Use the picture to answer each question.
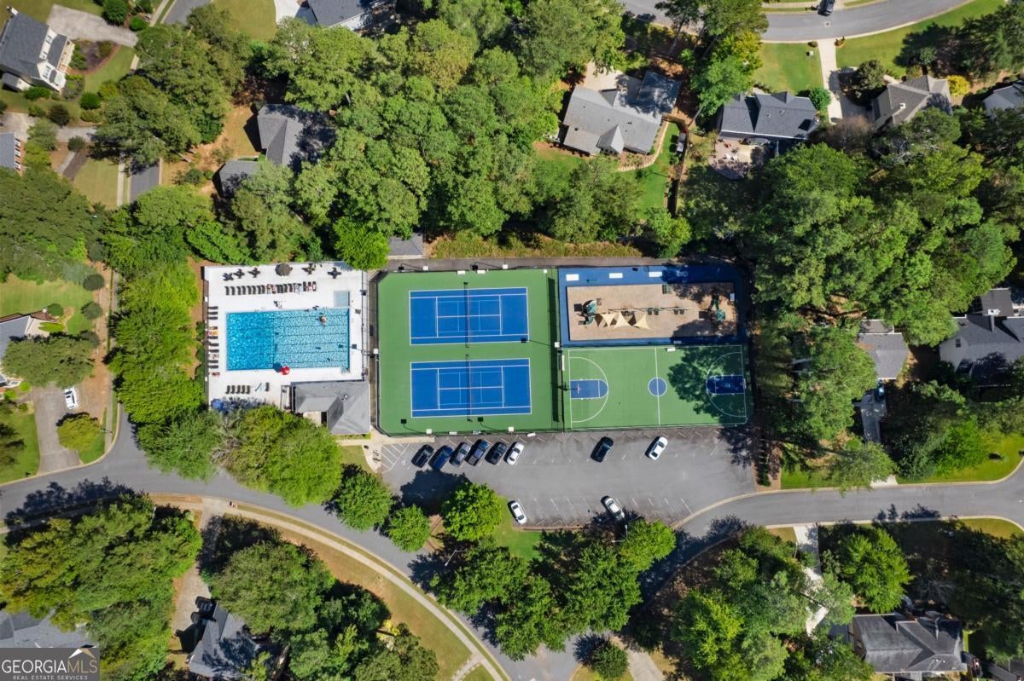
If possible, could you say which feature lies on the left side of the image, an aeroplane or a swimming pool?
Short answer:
swimming pool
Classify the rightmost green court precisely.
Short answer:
basketball court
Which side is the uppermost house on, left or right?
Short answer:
left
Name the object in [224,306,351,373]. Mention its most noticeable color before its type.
blue swimming pool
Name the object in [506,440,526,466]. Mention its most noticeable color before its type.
white car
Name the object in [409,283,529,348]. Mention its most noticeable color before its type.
blue tennis court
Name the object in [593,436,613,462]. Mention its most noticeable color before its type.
black car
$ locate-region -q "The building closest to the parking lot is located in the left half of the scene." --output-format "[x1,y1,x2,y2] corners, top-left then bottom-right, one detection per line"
[290,380,371,435]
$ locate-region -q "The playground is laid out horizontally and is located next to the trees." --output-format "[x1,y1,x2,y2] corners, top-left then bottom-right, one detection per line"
[559,263,755,347]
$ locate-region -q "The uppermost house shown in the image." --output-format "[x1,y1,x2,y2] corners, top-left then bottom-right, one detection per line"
[309,0,366,31]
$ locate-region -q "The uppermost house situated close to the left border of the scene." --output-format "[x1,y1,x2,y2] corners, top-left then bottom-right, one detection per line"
[0,4,76,92]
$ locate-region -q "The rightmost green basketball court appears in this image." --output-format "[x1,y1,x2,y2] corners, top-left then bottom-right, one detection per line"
[562,342,753,431]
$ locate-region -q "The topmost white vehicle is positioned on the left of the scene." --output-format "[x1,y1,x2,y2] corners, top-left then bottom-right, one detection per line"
[62,385,80,412]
